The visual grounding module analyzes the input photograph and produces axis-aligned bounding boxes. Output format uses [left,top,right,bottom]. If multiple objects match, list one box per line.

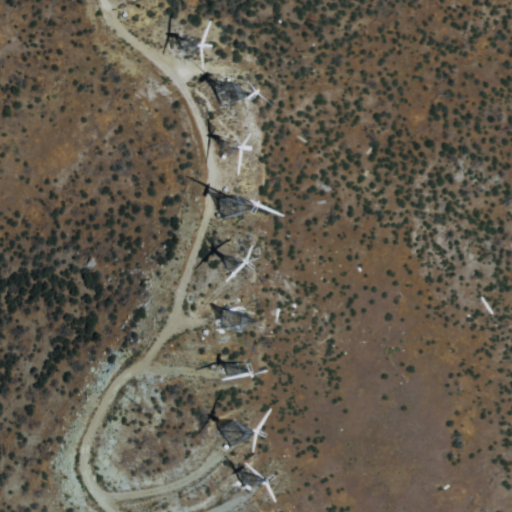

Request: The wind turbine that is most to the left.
[178,20,214,70]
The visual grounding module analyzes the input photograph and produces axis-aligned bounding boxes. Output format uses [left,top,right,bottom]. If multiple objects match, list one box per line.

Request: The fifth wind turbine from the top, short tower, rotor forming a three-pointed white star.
[222,245,260,282]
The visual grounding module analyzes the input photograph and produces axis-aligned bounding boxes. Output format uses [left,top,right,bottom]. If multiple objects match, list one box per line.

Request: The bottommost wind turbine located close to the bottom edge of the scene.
[242,464,276,502]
